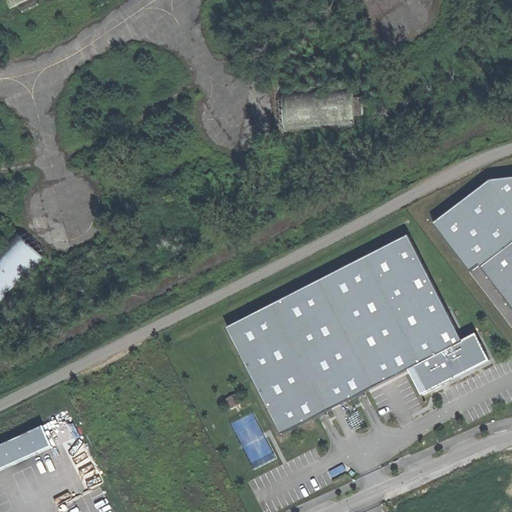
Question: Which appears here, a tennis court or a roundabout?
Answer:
tennis court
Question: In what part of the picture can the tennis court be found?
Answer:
bottom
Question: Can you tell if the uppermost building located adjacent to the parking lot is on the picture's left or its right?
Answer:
right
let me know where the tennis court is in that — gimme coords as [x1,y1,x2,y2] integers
[231,412,276,469]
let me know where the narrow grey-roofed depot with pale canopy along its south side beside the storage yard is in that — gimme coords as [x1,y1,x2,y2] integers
[0,425,52,474]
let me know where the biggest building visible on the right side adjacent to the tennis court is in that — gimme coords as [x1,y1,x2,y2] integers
[226,235,460,432]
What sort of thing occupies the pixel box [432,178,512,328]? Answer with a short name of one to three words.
building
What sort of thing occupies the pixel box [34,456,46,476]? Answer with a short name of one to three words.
vehicle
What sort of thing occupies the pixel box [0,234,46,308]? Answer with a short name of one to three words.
hangar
